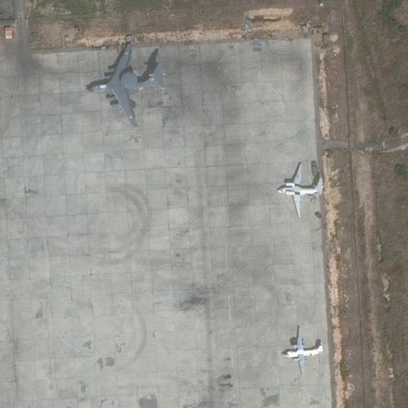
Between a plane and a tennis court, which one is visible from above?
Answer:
plane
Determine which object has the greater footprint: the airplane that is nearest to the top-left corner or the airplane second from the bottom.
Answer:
the airplane that is nearest to the top-left corner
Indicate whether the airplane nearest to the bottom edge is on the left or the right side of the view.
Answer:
right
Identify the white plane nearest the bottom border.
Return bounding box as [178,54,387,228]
[282,329,323,379]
